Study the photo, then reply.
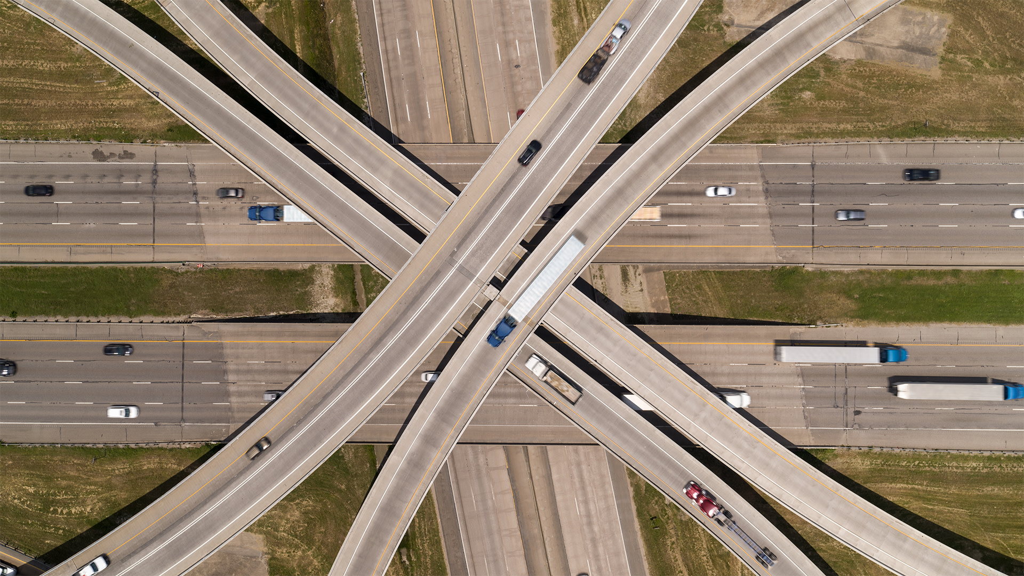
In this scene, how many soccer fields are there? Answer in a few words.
0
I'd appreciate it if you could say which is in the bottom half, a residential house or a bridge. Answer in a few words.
bridge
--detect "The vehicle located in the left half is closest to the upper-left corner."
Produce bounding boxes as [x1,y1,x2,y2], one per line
[27,184,53,197]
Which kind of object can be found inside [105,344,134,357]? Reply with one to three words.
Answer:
vehicle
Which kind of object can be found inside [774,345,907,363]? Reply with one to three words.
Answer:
vehicle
